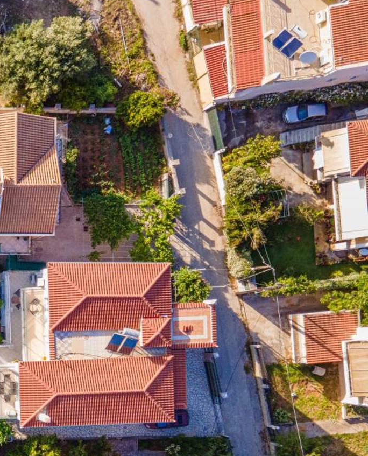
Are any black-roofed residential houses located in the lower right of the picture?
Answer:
No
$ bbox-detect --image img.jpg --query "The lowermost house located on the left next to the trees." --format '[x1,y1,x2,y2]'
[0,261,219,429]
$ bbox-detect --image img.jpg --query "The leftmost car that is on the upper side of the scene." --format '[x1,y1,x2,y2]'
[280,102,327,126]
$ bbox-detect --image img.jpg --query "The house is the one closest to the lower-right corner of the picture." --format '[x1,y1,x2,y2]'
[285,309,368,406]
